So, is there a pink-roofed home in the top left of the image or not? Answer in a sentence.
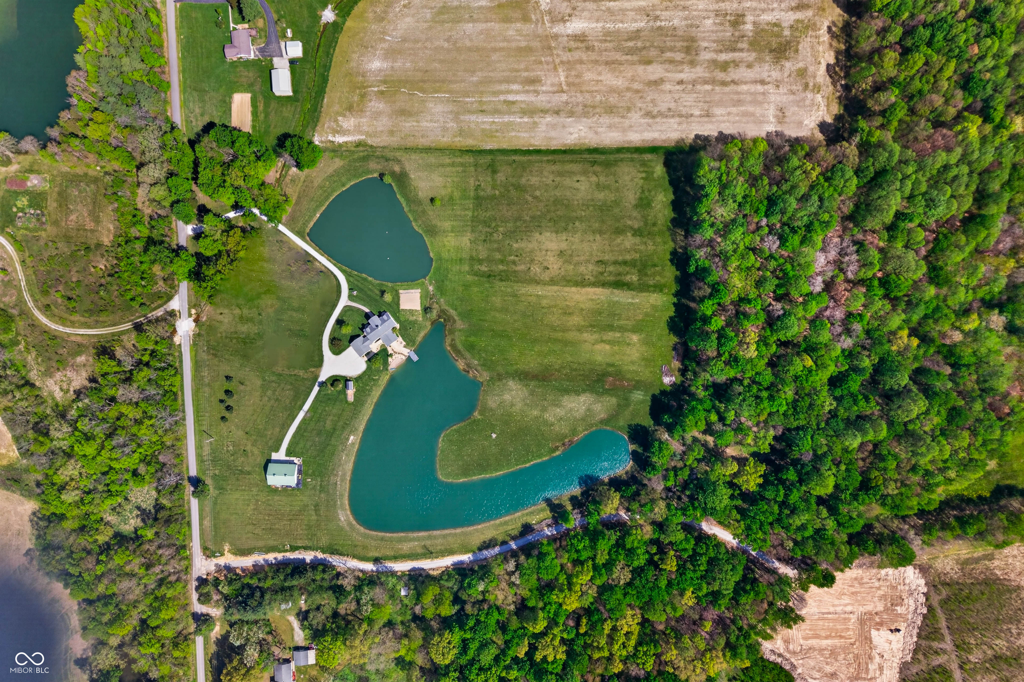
No, no pink-roofed home can be made out in the top left of the image.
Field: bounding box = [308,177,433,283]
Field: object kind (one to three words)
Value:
pond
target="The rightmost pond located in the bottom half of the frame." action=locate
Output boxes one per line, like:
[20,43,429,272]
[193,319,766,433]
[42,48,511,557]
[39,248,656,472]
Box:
[348,319,632,532]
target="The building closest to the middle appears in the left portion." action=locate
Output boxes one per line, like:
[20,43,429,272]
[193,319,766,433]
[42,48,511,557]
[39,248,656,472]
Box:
[351,312,400,359]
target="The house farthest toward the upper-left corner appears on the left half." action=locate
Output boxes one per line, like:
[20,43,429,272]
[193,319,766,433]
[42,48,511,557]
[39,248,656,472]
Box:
[224,29,262,61]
